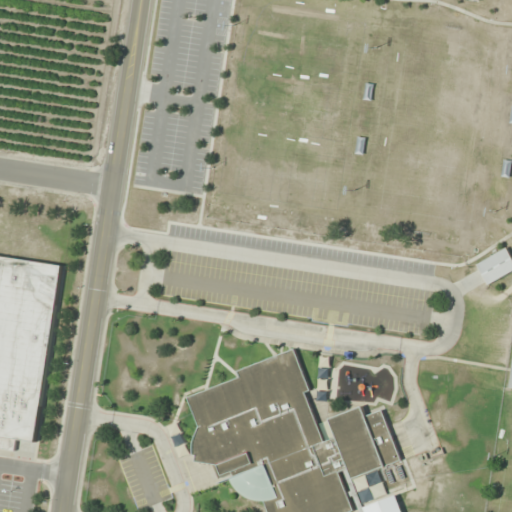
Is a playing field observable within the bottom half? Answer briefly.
No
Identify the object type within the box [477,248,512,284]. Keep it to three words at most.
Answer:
building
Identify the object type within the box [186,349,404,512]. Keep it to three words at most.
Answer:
building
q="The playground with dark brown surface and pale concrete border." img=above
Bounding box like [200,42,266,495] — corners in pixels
[332,362,398,406]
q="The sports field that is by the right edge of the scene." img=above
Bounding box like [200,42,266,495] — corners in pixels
[382,34,488,202]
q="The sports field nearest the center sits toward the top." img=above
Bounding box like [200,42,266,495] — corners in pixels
[236,150,350,214]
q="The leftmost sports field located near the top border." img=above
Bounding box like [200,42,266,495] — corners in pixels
[248,18,352,126]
